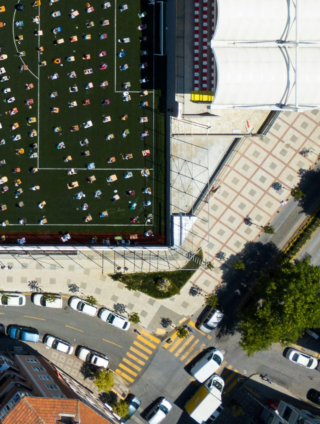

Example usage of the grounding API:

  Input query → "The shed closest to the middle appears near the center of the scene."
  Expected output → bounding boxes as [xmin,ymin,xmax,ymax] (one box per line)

[165,203,200,248]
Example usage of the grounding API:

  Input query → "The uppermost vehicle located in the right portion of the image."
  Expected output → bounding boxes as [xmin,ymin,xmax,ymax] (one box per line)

[197,306,225,338]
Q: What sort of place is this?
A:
sports ground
